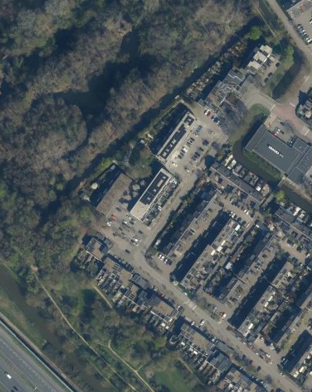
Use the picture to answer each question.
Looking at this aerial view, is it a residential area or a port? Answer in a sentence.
This looks like a residential area.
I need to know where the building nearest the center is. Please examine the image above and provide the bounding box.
[130,169,176,224]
